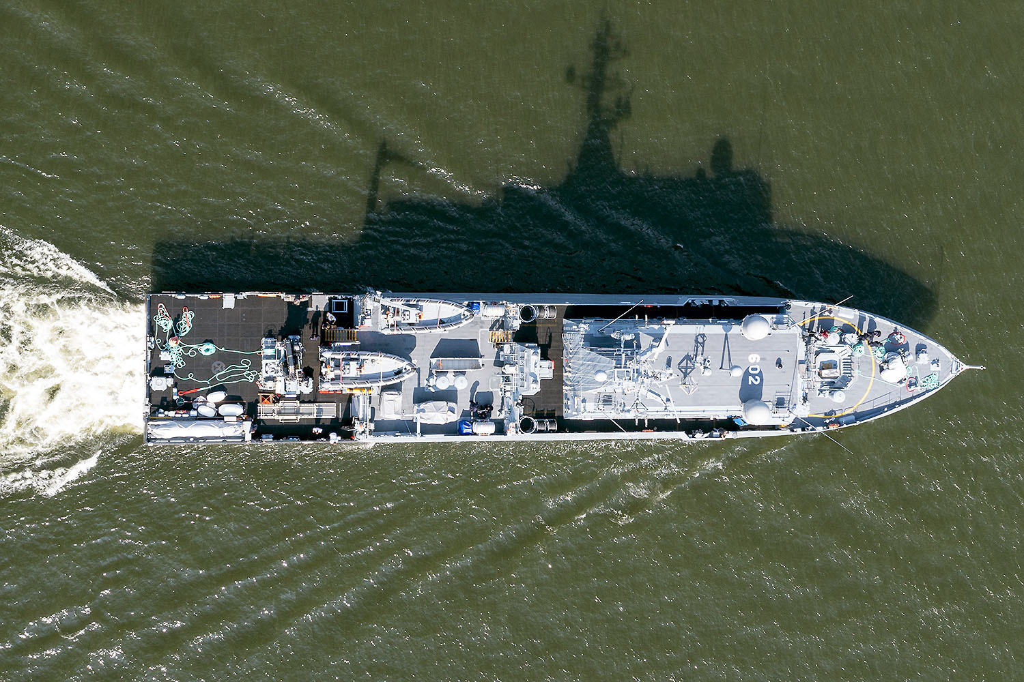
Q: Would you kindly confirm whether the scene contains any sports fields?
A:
No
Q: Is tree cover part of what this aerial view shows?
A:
No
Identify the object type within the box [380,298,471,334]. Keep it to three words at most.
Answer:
boat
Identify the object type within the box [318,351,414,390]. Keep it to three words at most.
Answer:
boat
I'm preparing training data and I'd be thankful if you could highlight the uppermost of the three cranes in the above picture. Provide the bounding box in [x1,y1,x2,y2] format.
[362,290,428,314]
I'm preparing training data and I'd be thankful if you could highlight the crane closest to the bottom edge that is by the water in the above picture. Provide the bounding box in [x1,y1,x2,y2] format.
[349,390,376,441]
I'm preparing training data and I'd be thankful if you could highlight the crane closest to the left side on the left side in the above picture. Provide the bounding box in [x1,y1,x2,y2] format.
[276,336,312,397]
